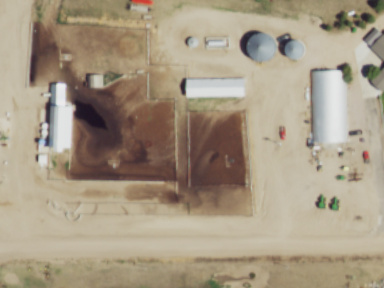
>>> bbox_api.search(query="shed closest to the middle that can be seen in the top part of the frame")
[186,78,246,98]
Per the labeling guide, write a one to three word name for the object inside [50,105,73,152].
barn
